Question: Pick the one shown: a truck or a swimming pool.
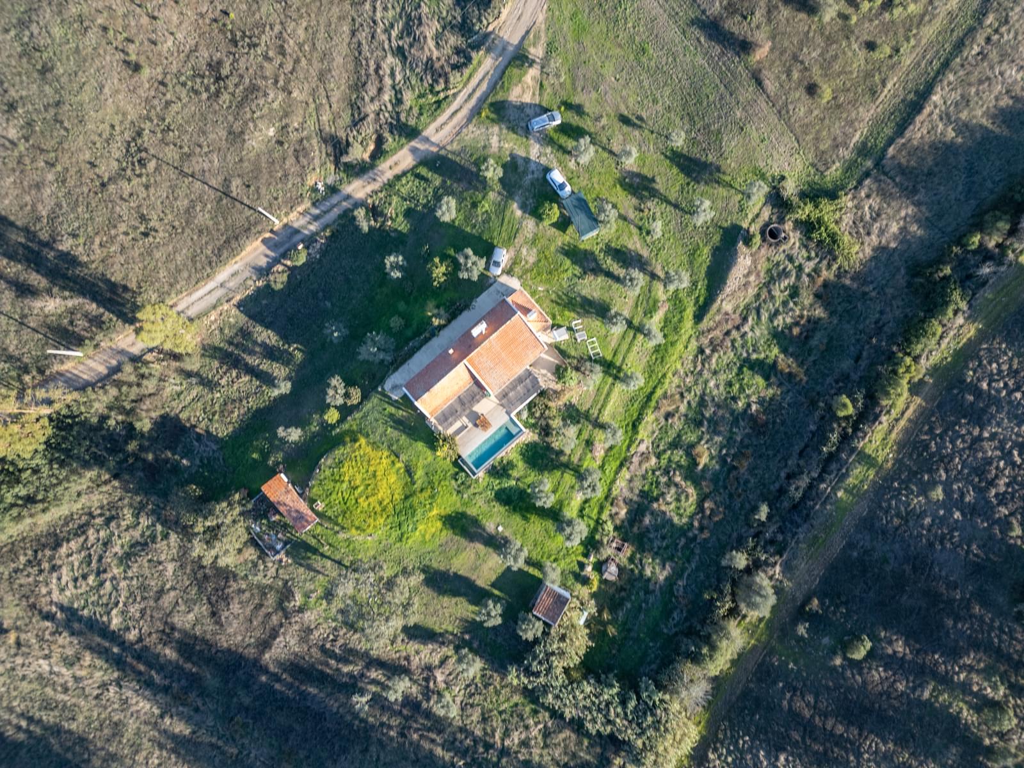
swimming pool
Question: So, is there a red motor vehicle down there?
No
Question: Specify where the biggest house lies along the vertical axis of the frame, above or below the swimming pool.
above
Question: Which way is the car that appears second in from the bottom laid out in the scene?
on a diagonal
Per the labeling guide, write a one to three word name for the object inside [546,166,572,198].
car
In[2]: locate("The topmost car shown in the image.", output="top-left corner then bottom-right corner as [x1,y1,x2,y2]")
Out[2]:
[528,110,562,131]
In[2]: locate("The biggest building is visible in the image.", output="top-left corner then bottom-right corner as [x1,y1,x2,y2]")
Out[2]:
[402,288,552,420]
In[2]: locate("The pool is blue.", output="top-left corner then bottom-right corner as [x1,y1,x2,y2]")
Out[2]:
[458,415,526,475]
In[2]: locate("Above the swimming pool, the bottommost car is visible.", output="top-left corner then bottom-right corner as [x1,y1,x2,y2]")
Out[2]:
[489,246,506,276]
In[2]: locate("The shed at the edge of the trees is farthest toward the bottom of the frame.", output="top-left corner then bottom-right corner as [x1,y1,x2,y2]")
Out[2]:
[532,581,571,625]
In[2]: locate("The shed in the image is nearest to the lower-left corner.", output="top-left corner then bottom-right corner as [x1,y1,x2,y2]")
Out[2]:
[261,472,318,533]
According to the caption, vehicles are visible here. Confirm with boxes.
[489,246,506,276]
[546,166,572,198]
[528,110,562,131]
